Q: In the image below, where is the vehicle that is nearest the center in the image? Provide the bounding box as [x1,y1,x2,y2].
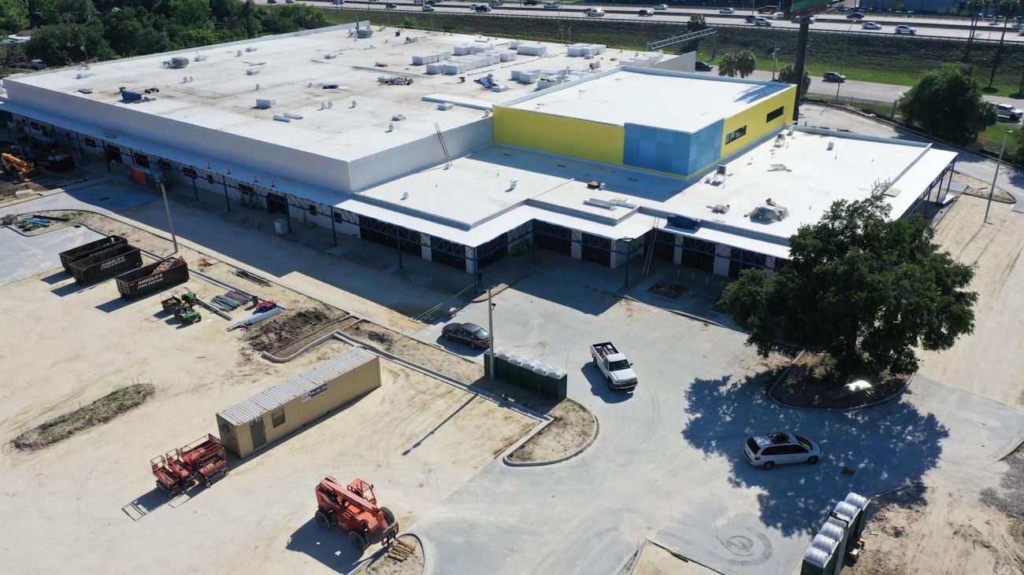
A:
[447,319,497,349]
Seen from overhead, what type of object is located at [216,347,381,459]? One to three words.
shipping container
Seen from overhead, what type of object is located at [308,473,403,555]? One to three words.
work vehicle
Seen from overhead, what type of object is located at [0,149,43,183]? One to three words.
work vehicle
